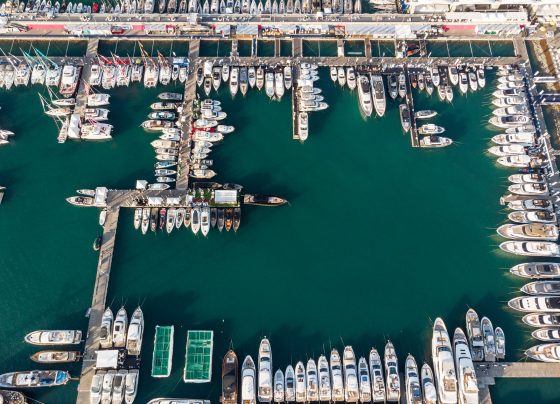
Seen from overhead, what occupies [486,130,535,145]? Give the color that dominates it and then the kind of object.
white boat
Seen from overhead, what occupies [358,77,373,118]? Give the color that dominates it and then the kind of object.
white boat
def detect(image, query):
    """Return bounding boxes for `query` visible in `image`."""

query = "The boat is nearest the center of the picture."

[244,194,288,207]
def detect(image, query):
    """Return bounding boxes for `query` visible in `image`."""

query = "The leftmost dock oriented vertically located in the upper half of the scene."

[68,65,90,138]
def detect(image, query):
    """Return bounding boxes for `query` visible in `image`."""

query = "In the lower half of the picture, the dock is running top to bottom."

[75,207,120,404]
